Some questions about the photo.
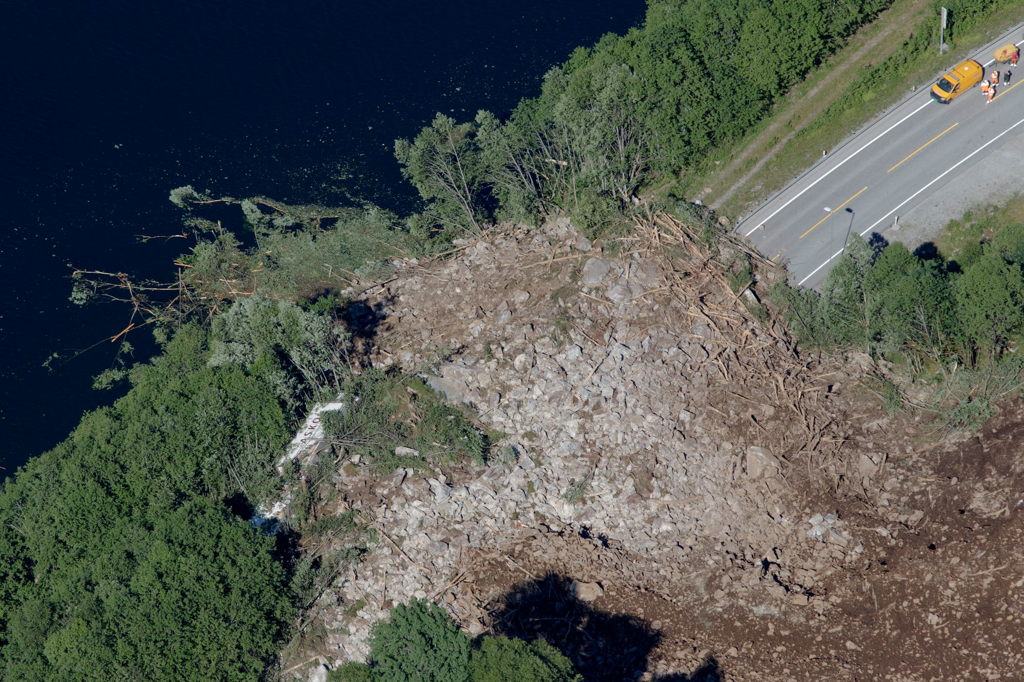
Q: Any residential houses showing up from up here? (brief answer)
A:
No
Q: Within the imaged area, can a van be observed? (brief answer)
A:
Yes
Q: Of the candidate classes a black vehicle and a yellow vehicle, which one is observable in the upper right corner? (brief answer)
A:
yellow vehicle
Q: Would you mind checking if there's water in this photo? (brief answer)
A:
Yes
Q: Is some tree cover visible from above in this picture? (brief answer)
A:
Yes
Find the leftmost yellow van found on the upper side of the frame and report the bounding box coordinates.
[929,58,985,105]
